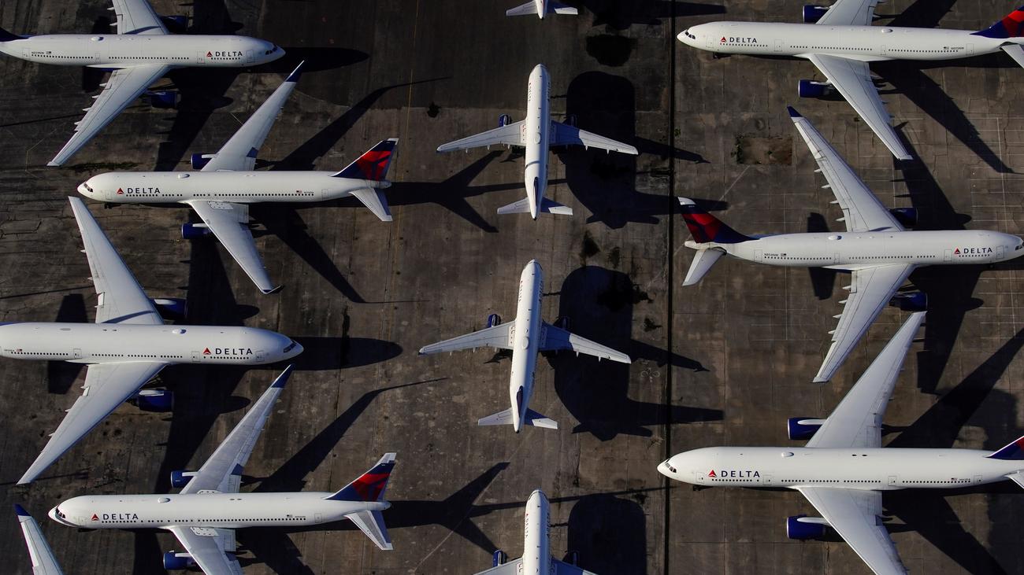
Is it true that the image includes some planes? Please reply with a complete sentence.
Yes, I can see a plane in this picture.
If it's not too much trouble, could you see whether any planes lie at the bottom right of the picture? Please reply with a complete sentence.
Yes, the scene does show a plane at the bottom right of the picture.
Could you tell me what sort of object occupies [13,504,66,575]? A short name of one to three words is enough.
airplane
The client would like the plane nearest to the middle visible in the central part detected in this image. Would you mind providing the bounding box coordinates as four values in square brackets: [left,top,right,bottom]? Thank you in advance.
[420,261,630,433]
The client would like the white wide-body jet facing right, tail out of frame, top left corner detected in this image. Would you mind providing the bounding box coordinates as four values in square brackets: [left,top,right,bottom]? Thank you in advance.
[0,0,285,165]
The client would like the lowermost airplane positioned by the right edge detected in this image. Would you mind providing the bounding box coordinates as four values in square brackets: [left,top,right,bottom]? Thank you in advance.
[657,312,1024,575]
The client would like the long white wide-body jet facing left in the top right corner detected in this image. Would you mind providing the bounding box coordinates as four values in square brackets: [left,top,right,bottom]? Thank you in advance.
[677,0,1024,158]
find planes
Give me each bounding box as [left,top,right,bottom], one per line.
[437,65,636,219]
[49,366,395,575]
[507,0,577,18]
[13,504,66,575]
[657,312,1024,575]
[78,63,397,295]
[470,490,607,575]
[677,0,1024,158]
[420,261,630,433]
[0,195,303,487]
[0,0,285,165]
[678,103,1024,381]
